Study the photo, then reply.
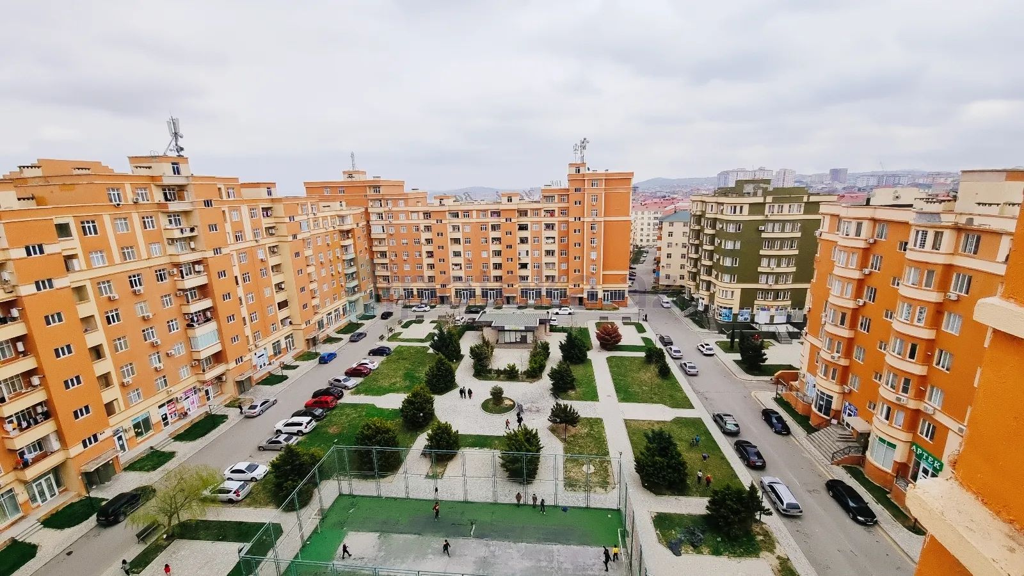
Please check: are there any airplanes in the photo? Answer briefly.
No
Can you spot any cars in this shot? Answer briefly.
Yes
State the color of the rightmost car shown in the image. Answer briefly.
black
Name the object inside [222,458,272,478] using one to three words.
car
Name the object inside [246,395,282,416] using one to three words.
car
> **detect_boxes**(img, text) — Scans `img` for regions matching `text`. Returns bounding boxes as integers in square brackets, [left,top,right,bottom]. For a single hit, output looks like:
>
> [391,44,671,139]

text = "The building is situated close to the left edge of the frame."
[0,154,382,551]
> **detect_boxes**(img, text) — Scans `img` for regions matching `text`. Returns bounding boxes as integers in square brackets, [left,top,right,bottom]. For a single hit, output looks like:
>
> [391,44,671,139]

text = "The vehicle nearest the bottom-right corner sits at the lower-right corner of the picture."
[823,475,879,522]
